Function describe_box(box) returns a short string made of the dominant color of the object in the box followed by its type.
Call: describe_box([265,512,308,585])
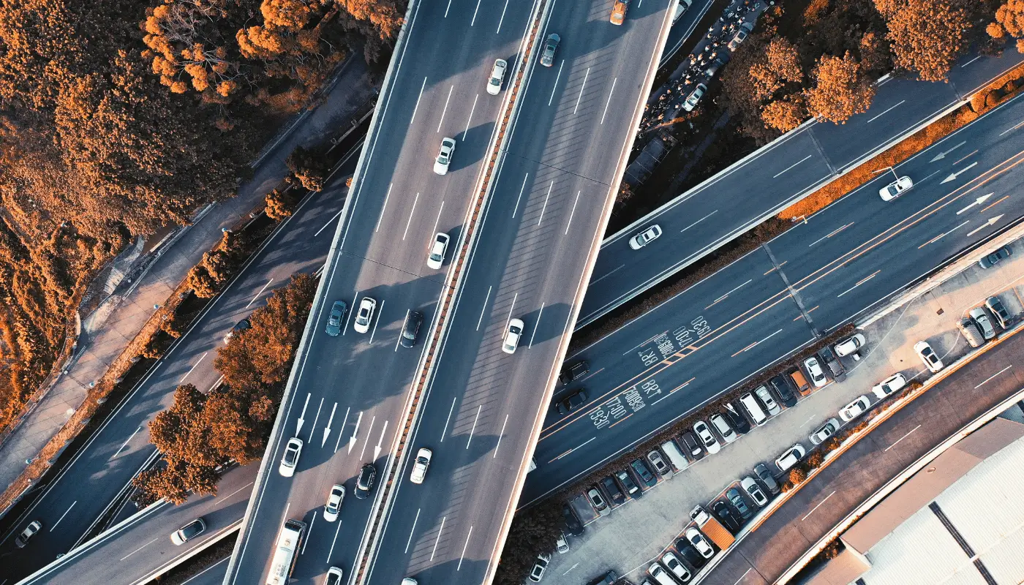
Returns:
white bus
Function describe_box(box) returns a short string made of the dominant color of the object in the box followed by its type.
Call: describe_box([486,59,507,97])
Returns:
white car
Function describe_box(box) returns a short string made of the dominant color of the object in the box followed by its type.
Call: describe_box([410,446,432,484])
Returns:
white car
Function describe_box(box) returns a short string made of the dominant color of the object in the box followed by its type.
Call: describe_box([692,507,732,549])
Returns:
orange truck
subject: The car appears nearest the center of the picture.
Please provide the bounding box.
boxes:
[502,317,523,354]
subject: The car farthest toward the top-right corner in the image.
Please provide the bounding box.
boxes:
[876,176,912,201]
